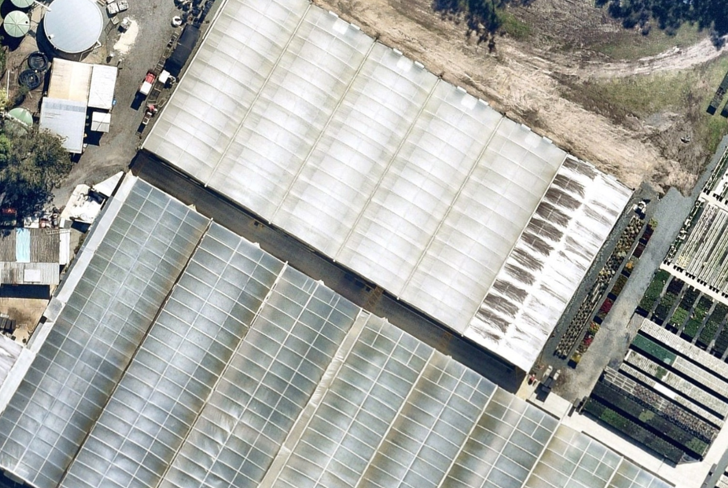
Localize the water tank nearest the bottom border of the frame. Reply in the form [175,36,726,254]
[7,107,36,137]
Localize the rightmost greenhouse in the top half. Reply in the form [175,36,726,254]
[141,0,636,378]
